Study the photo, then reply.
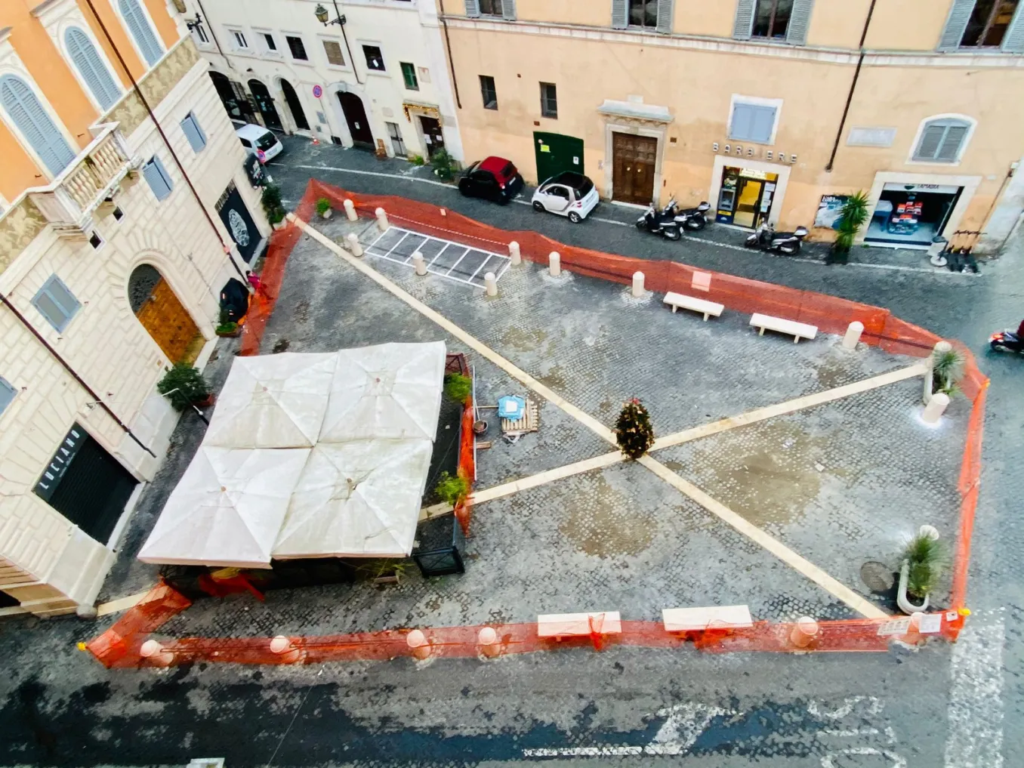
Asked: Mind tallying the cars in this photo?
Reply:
3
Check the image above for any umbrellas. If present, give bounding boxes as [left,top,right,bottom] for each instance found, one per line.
[204,352,337,449]
[272,441,436,565]
[137,446,317,564]
[316,341,447,447]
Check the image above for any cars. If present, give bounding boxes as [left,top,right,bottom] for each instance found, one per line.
[530,163,605,225]
[445,155,520,209]
[230,113,278,163]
